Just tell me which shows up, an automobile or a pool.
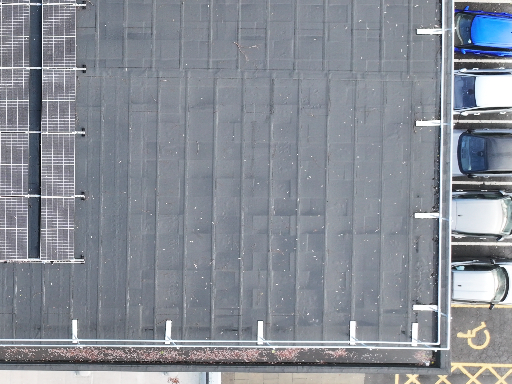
automobile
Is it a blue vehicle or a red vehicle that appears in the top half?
blue vehicle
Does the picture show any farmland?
No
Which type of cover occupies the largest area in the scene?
buildings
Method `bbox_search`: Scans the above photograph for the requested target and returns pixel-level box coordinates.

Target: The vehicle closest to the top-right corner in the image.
[455,0,512,58]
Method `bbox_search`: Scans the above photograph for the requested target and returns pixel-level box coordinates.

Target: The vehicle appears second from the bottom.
[453,186,512,246]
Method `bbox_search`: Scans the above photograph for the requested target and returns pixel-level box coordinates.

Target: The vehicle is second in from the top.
[454,62,512,121]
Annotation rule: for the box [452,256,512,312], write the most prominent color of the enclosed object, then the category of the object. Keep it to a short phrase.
white car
